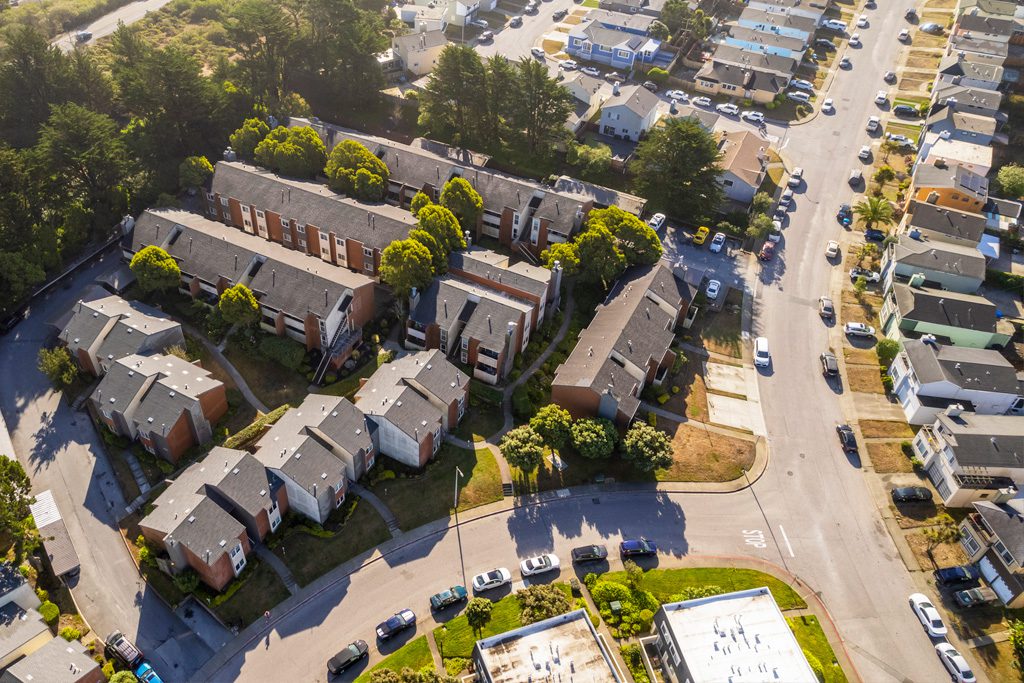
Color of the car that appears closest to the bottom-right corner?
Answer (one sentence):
The car that appears closest to the bottom-right corner looks white in the image.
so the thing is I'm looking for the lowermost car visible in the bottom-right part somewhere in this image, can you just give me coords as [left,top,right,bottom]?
[939,644,973,683]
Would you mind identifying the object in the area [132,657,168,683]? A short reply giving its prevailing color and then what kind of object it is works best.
blue truck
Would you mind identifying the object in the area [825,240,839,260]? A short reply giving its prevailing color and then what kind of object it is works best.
white car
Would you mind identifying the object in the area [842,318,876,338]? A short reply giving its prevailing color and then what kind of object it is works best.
white car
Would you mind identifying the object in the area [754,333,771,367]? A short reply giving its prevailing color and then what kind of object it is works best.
white vehicle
